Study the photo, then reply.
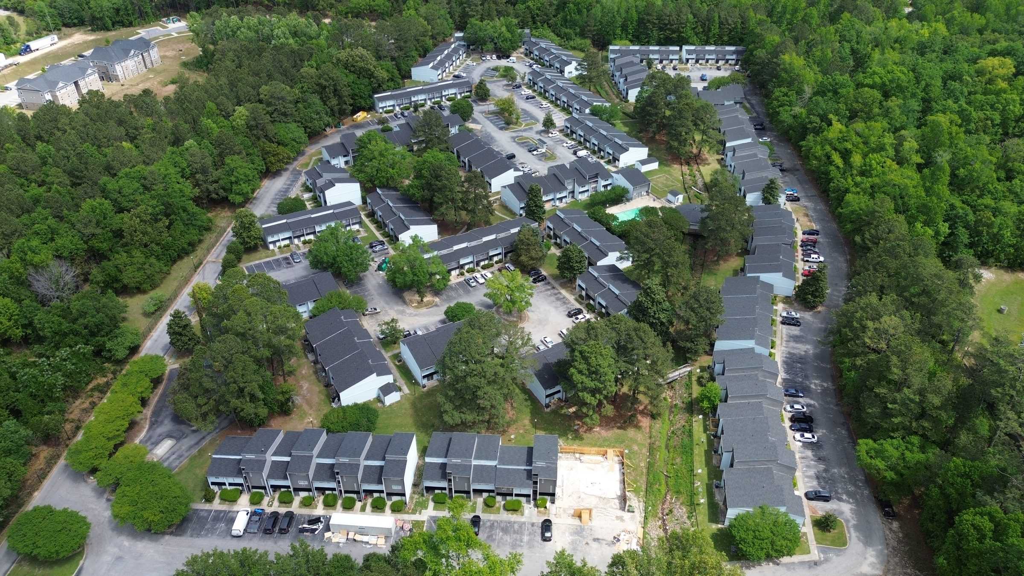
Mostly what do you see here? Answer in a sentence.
For the most part, this view shows trees.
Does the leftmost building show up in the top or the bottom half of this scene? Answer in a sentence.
The top half of the photo is where the leftmost building is.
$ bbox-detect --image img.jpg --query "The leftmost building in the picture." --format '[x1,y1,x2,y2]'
[21,67,104,112]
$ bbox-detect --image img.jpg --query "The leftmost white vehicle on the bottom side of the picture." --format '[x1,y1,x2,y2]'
[230,509,251,536]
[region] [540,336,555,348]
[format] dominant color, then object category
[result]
white vehicle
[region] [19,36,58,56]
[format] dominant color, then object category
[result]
white vehicle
